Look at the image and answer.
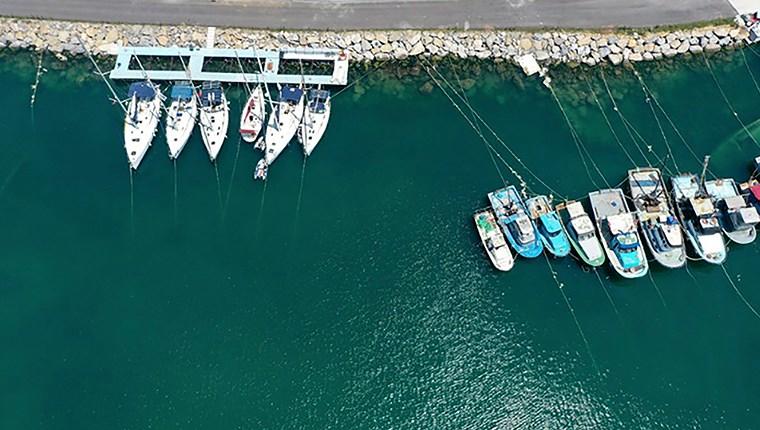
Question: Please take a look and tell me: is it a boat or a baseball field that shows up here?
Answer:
boat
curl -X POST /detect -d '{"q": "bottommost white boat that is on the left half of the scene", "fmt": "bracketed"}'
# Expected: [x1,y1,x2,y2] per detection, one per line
[254,157,269,180]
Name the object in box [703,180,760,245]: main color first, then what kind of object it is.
white boat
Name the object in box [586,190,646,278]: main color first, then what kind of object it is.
white boat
